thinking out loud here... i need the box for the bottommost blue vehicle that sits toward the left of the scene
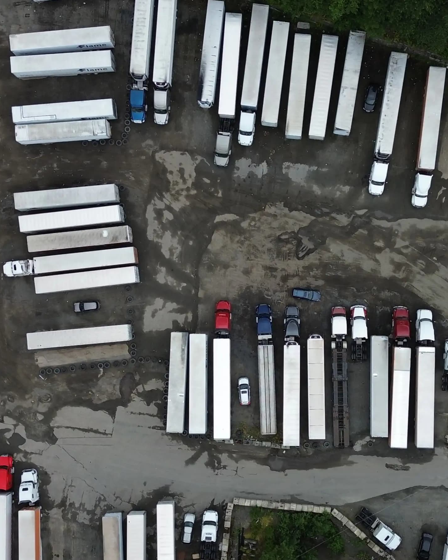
[127,78,149,124]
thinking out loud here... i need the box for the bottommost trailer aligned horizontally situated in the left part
[27,324,133,349]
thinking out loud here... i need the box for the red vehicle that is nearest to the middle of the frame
[212,300,232,338]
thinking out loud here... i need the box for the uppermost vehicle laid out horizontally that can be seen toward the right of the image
[292,287,321,302]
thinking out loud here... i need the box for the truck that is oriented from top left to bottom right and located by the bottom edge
[352,499,401,548]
